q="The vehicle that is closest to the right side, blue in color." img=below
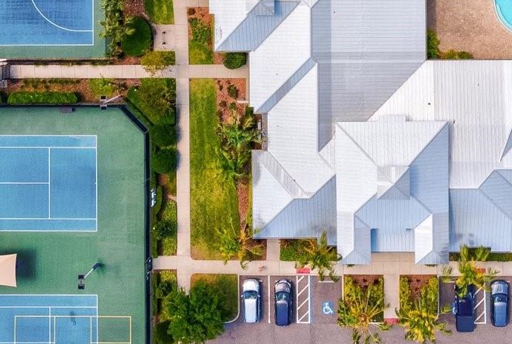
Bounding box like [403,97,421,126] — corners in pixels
[490,278,511,327]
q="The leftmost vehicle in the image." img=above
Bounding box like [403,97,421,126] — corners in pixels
[241,278,261,324]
